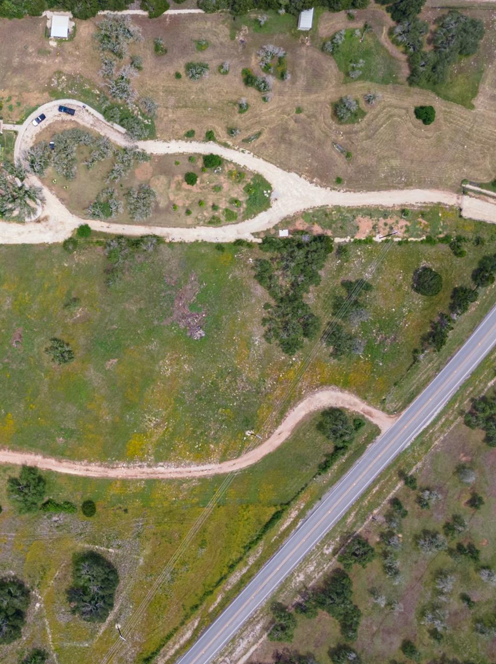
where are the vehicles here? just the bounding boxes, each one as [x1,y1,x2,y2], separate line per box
[31,111,47,127]
[58,105,76,115]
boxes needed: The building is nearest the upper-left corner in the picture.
[49,15,69,42]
